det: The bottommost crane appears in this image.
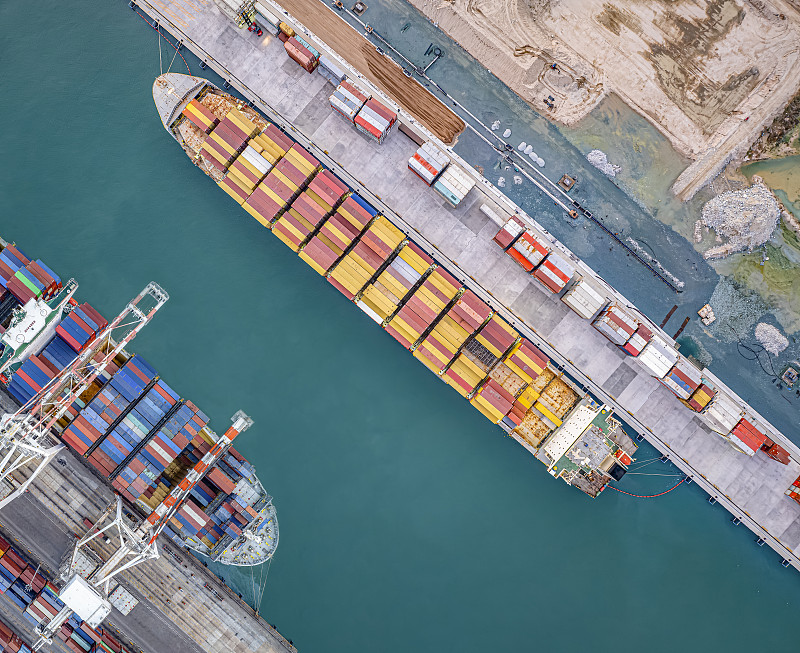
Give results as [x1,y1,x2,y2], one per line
[12,401,248,653]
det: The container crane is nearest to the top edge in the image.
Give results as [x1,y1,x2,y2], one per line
[0,280,171,506]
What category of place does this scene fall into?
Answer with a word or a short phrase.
port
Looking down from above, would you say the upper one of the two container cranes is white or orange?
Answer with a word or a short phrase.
white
